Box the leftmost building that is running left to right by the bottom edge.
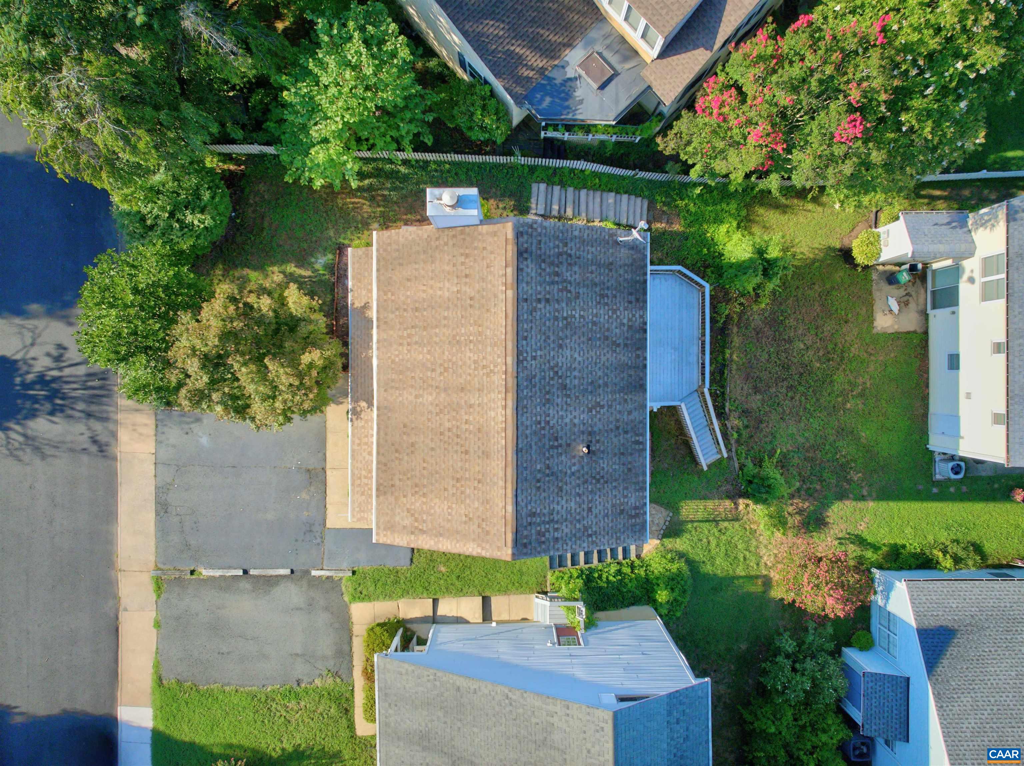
[374,603,710,766]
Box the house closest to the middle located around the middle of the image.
[341,215,653,561]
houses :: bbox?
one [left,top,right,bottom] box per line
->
[922,201,1024,469]
[374,603,710,766]
[398,0,762,141]
[865,565,1024,766]
[341,215,653,561]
